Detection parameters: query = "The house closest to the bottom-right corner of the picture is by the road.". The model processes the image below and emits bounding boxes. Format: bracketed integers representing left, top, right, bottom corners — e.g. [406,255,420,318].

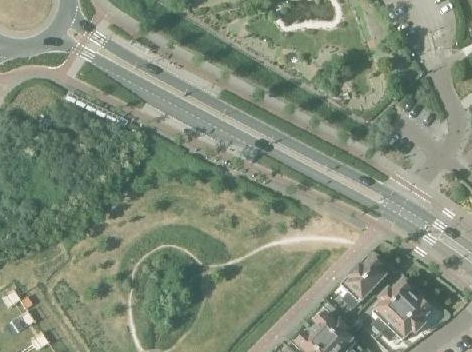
[369,279,431,340]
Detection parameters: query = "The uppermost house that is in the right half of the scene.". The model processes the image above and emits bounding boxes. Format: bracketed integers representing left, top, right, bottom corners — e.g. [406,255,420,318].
[334,253,391,301]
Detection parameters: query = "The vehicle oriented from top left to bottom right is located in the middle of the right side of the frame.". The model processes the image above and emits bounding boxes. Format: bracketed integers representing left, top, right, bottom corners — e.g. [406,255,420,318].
[358,174,374,187]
